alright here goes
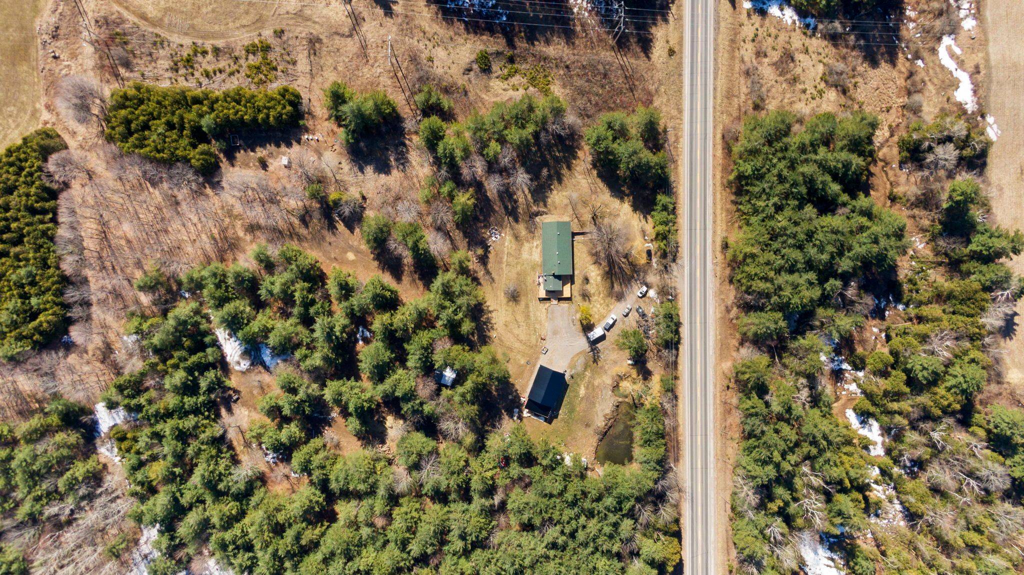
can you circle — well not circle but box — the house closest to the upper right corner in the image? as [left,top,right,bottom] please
[540,221,596,303]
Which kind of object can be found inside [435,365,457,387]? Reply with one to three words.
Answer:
shed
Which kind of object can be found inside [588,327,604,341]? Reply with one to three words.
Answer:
camper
